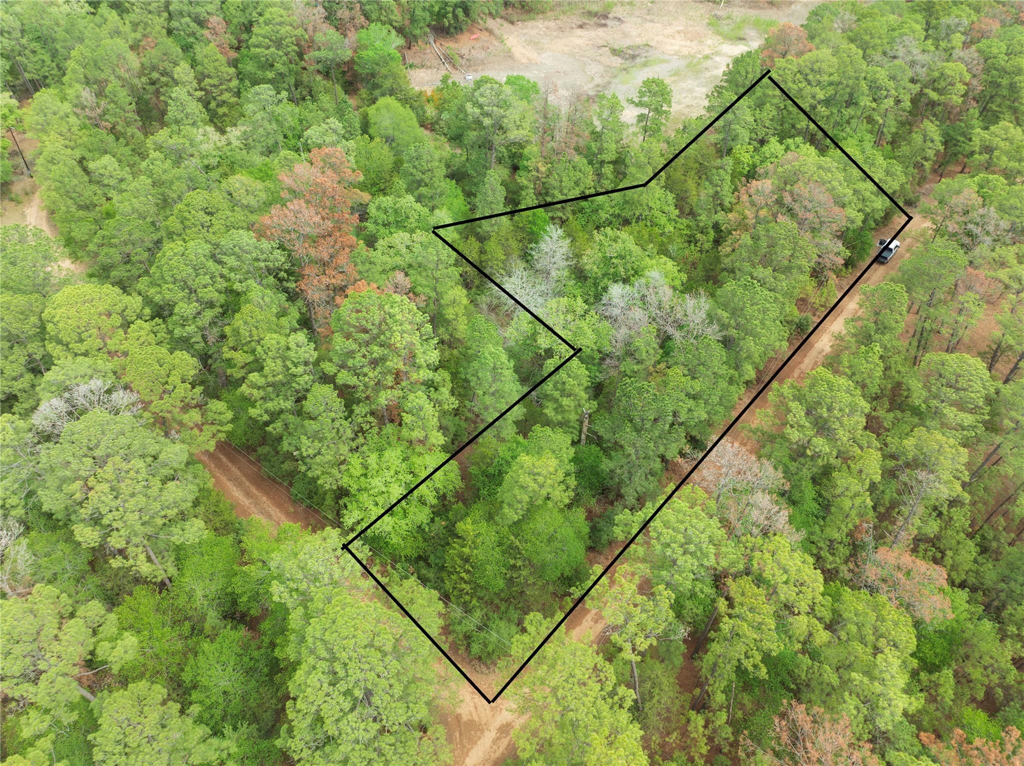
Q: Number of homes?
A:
0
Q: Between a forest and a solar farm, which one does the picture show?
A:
forest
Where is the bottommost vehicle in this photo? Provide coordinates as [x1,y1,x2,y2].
[877,236,902,258]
